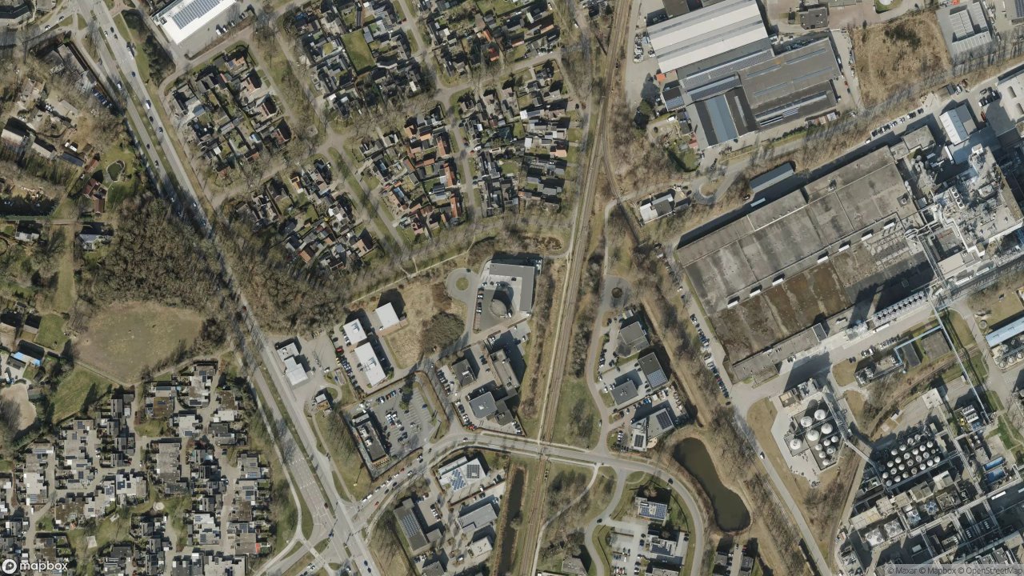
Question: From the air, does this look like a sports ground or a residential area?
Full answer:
It's a residential area.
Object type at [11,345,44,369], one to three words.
house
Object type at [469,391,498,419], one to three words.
building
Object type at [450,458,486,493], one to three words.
building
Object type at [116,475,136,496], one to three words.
house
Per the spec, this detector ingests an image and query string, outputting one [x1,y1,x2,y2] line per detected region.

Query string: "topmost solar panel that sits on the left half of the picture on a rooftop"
[173,0,222,29]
